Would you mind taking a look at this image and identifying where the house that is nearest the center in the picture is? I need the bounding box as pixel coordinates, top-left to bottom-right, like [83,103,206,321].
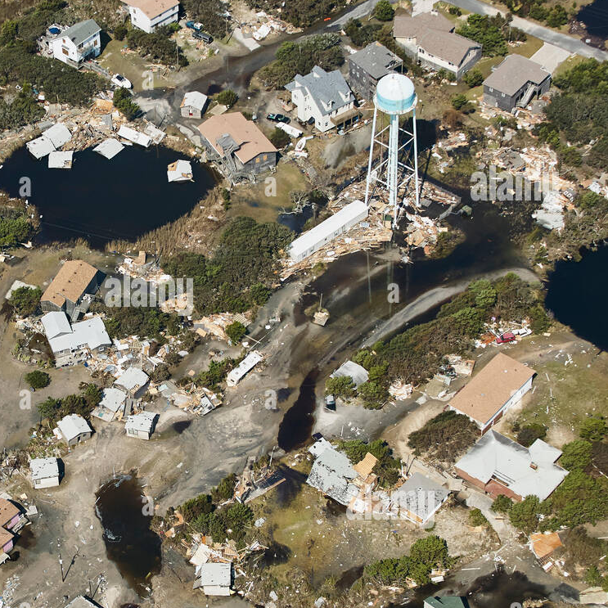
[287,201,368,265]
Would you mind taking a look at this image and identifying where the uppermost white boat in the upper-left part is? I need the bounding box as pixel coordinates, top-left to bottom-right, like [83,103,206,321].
[107,71,132,85]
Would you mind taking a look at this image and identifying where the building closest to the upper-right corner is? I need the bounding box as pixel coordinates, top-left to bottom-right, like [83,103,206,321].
[491,57,551,111]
